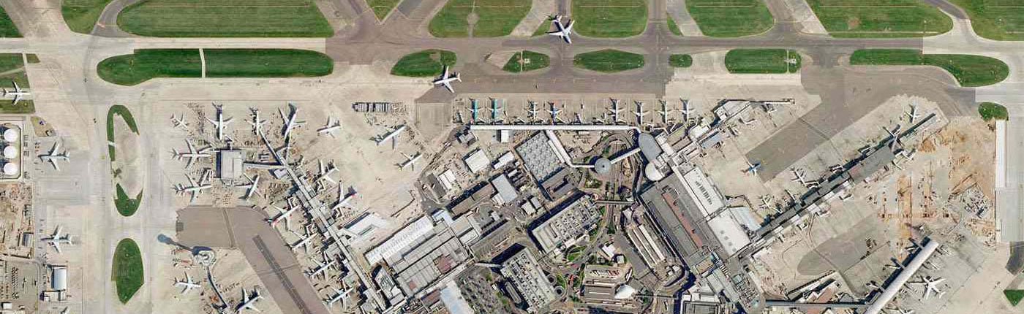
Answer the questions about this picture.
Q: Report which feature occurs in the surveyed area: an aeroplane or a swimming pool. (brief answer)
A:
aeroplane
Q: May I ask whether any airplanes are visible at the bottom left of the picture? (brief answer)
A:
Yes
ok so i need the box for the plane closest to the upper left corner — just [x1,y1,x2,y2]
[0,81,31,105]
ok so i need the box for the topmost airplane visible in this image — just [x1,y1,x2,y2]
[550,14,576,44]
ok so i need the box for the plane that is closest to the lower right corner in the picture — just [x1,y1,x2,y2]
[920,274,948,300]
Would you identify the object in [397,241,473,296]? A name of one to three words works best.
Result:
building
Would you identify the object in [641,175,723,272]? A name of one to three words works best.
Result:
building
